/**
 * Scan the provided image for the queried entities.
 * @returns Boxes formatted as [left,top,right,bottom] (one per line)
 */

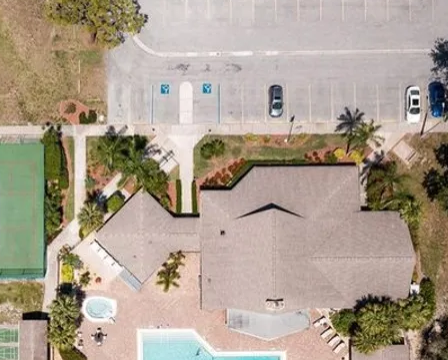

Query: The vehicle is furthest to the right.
[428,81,447,117]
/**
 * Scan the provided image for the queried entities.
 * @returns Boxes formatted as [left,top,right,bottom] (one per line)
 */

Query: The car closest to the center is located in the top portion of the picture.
[269,83,286,116]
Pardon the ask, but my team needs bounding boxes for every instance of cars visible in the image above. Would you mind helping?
[406,85,425,121]
[269,83,286,116]
[428,81,447,117]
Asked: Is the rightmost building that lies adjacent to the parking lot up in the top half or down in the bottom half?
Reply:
bottom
